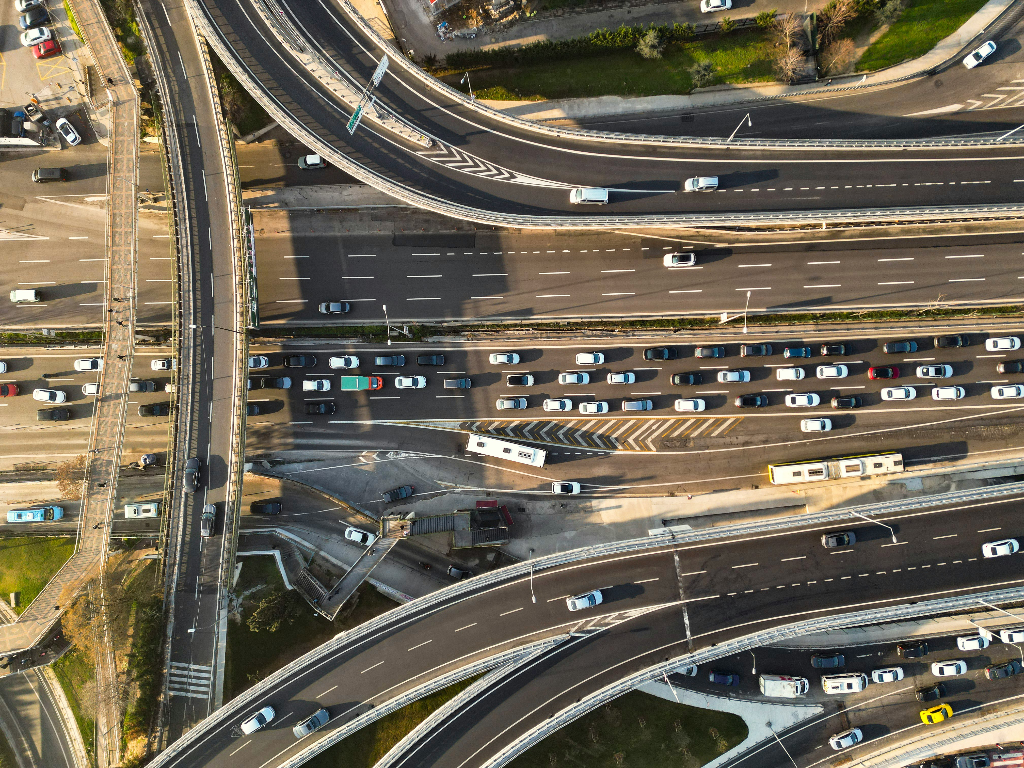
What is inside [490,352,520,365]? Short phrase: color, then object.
white vehicle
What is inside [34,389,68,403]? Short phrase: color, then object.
white car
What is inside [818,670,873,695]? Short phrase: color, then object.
white vehicle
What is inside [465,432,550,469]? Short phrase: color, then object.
white bus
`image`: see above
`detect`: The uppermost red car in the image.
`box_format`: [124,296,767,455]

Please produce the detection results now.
[34,40,63,60]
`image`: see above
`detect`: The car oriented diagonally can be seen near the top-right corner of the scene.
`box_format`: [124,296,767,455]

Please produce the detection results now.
[963,40,996,69]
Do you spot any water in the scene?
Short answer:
No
